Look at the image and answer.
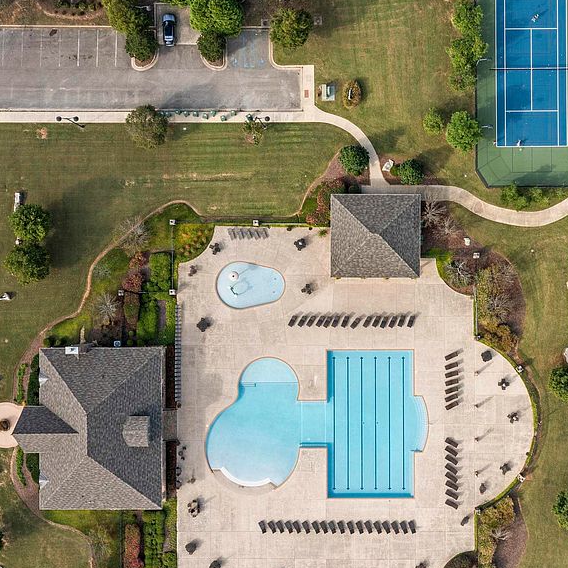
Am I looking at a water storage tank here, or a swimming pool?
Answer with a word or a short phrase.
swimming pool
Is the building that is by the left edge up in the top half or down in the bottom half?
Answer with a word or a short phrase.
bottom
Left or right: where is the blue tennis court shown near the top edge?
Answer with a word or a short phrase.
right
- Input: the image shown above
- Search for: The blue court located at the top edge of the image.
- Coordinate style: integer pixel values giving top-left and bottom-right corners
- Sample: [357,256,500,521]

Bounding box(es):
[496,0,568,147]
